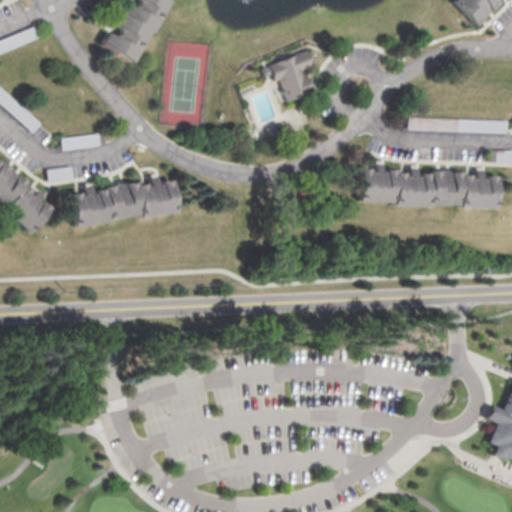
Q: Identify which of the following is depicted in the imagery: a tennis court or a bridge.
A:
tennis court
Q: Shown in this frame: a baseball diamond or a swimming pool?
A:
swimming pool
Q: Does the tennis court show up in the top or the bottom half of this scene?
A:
top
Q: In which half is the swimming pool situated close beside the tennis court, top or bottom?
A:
top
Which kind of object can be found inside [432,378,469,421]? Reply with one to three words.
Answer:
roundabout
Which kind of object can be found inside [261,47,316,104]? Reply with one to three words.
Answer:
building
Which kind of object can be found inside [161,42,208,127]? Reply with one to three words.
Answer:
tennis court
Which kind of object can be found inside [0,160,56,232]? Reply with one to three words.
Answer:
building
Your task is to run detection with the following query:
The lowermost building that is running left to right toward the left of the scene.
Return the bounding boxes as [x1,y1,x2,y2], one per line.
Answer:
[76,178,184,224]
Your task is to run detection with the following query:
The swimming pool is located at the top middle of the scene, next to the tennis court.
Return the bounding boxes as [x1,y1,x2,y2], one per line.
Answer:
[240,73,309,140]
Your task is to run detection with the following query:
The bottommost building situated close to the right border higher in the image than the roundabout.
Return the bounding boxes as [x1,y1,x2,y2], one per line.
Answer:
[362,168,506,210]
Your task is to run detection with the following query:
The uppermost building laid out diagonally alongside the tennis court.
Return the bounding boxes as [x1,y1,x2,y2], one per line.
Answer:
[108,0,174,67]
